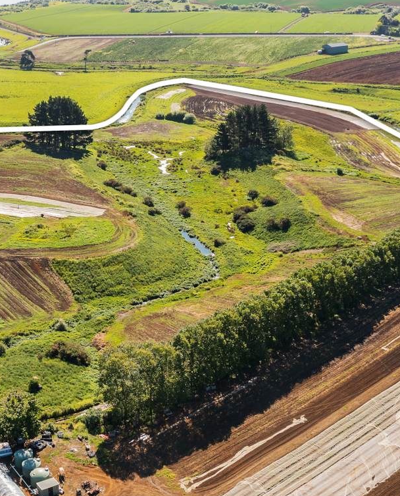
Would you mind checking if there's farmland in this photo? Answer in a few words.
Yes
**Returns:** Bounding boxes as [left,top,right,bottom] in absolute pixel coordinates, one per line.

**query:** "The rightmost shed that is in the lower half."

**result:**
[36,475,59,496]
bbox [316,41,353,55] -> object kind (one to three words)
barn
